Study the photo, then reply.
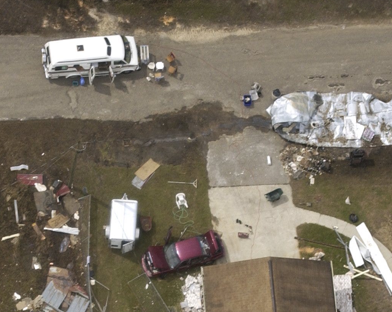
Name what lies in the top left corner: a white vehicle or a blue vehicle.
white vehicle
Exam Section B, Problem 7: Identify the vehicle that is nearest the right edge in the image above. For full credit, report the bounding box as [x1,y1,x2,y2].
[138,228,226,282]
